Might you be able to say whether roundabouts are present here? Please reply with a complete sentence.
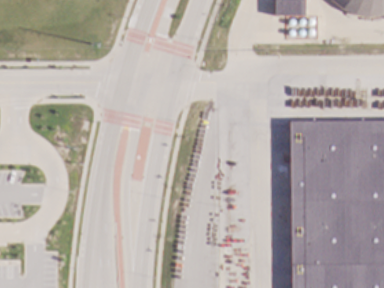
No, I find no roundabout anywhere in the image.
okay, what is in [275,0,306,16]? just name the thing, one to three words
shed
